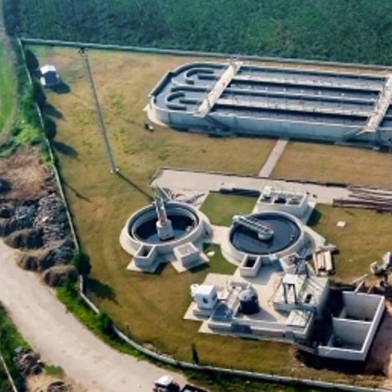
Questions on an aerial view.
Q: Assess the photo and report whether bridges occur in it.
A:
Yes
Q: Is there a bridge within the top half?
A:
Yes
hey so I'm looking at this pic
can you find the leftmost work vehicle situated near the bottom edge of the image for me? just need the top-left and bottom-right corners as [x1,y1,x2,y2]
[151,373,182,392]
